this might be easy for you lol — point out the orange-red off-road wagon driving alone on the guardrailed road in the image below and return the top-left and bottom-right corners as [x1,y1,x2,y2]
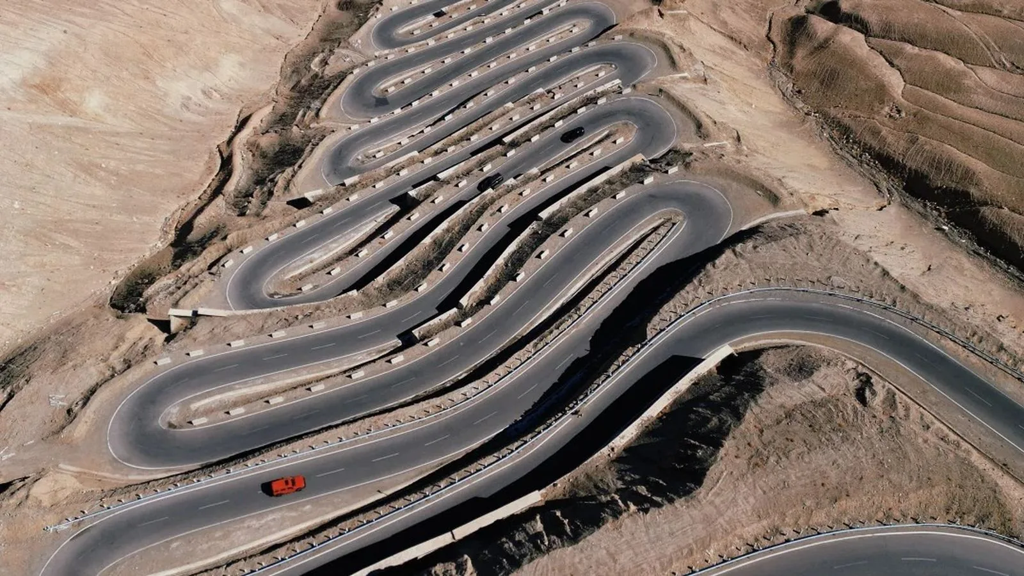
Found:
[273,477,305,495]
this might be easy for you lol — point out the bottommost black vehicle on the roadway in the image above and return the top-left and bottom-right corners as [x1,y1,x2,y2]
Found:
[485,173,504,188]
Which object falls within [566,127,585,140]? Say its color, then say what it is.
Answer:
black vehicle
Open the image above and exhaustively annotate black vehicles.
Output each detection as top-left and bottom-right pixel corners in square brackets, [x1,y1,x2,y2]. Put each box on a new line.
[485,173,504,188]
[566,127,585,140]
